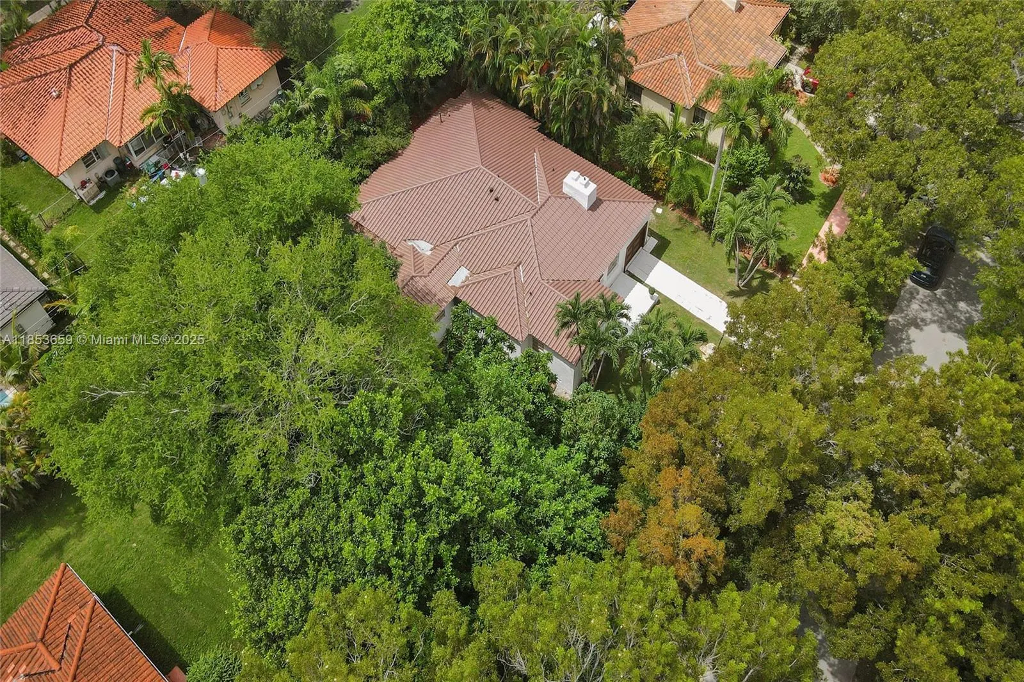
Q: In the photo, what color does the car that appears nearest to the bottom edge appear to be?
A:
black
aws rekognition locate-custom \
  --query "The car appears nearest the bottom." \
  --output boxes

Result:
[908,220,962,296]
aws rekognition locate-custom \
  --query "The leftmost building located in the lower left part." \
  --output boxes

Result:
[0,561,169,682]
